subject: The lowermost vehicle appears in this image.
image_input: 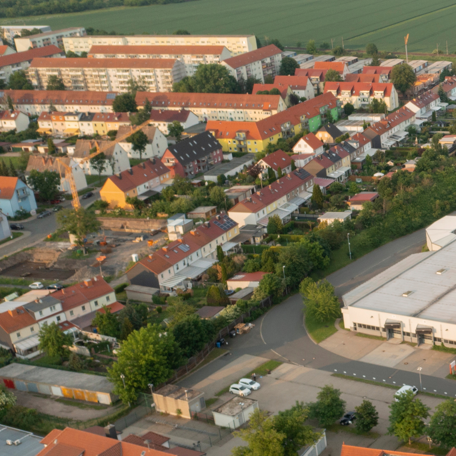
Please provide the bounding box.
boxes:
[340,409,354,421]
